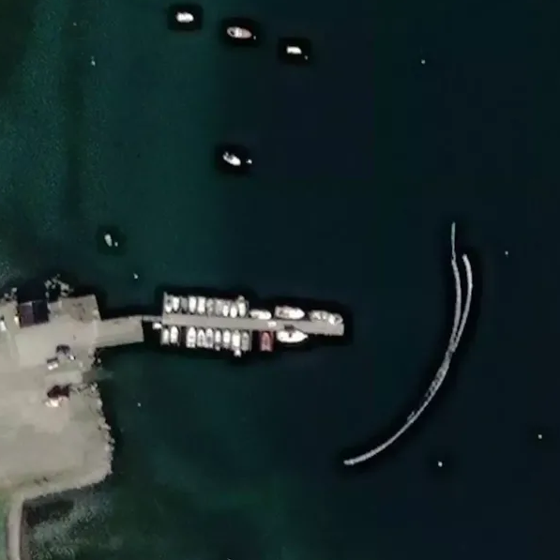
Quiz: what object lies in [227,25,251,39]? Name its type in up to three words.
boat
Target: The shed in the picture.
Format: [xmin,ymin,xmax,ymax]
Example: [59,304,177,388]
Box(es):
[17,298,50,328]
